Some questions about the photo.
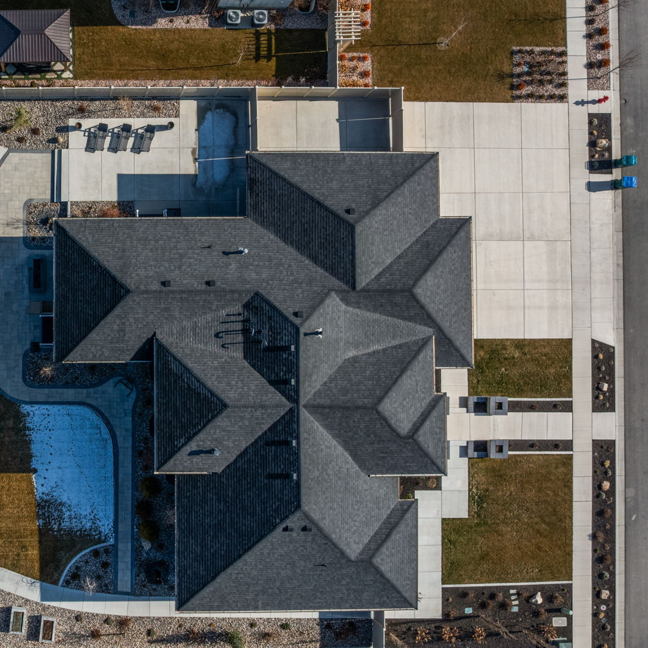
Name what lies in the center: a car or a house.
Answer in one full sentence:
The one visible in the center is a house.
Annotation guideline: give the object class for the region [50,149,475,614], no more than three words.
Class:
house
